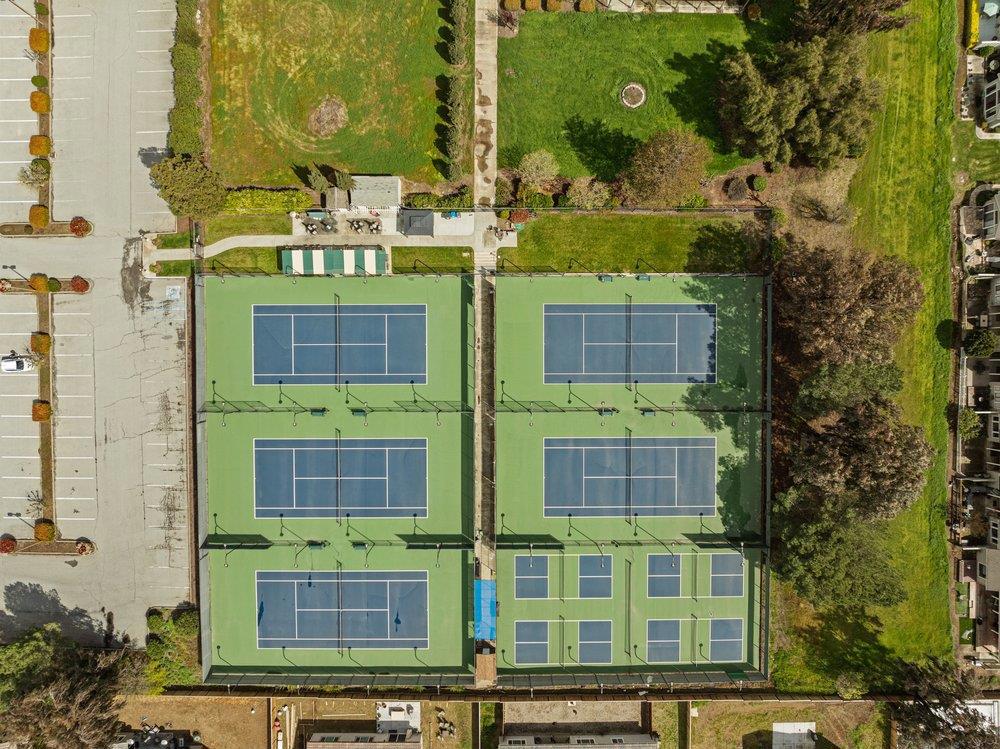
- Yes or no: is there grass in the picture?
Yes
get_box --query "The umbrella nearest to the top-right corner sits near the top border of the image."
[981,1,996,17]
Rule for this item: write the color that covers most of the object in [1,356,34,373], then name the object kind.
white car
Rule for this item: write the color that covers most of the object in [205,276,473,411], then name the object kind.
green tennis court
